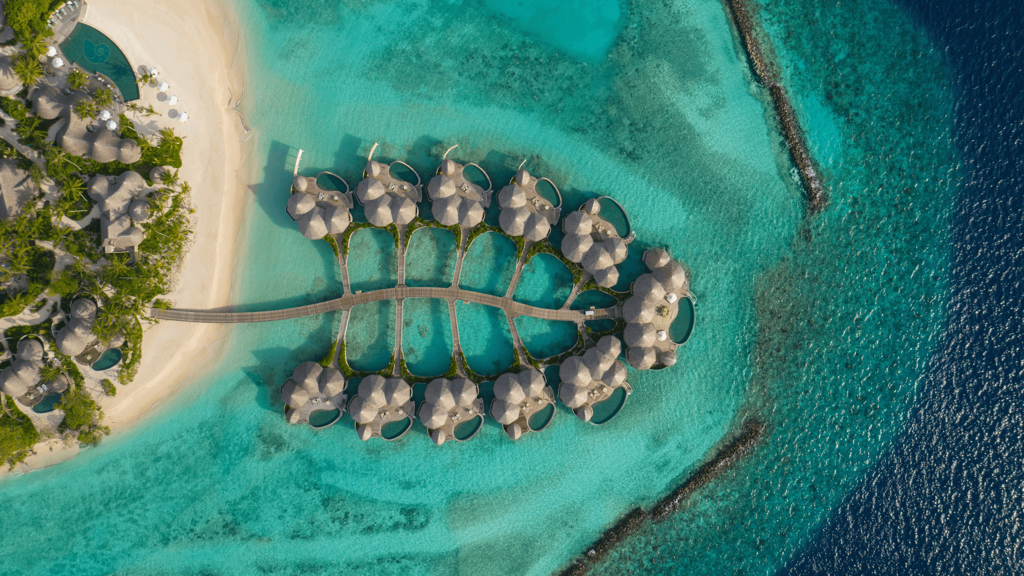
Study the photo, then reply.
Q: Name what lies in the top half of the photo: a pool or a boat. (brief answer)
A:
pool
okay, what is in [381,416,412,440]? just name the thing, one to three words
swimming pool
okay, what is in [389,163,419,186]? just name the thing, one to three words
swimming pool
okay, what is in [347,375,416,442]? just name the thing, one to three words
house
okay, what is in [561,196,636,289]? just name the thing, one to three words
house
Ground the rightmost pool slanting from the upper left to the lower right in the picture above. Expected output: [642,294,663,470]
[597,198,629,238]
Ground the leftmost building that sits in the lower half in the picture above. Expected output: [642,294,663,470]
[0,334,77,418]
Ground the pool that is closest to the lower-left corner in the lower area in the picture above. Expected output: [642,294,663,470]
[35,393,62,412]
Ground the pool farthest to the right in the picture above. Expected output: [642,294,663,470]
[669,297,693,344]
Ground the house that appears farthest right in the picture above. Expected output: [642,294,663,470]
[615,247,697,372]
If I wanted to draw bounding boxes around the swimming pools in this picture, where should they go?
[35,393,62,412]
[58,19,143,104]
[597,198,629,238]
[528,403,554,431]
[590,386,625,425]
[310,408,342,428]
[669,297,693,344]
[389,163,419,186]
[463,165,491,192]
[316,174,348,195]
[381,416,412,440]
[94,349,120,369]
[535,180,560,209]
[454,414,483,441]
